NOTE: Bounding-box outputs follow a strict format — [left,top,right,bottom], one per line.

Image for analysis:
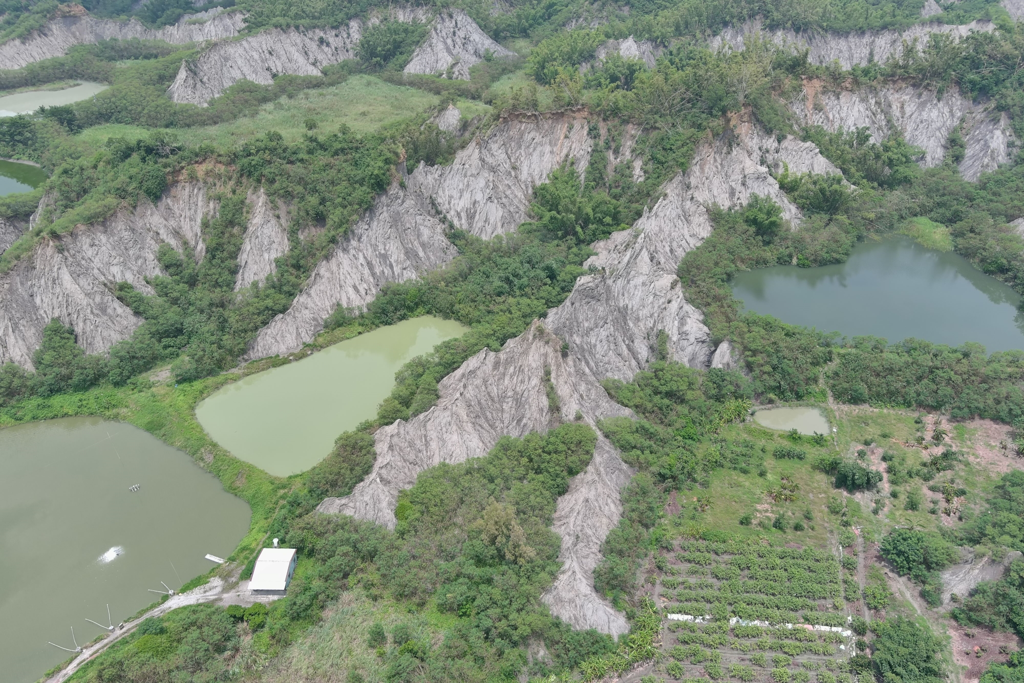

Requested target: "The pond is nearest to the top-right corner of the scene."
[731,233,1024,363]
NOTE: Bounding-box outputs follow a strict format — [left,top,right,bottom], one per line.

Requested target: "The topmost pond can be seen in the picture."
[0,82,109,118]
